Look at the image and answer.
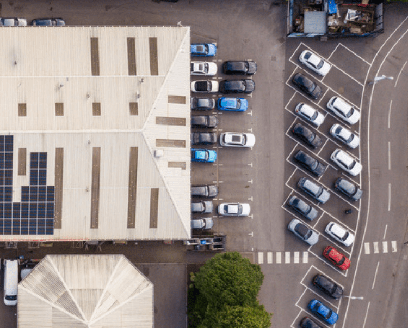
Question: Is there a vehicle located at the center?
Yes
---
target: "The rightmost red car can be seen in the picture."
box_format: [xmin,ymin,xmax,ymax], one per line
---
[319,244,352,271]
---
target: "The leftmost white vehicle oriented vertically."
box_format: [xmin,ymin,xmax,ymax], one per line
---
[2,263,17,303]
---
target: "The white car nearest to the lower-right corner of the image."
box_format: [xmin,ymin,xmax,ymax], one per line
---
[323,221,355,246]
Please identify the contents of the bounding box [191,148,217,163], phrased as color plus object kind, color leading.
blue car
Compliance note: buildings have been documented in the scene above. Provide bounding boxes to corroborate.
[0,21,193,242]
[17,254,154,328]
